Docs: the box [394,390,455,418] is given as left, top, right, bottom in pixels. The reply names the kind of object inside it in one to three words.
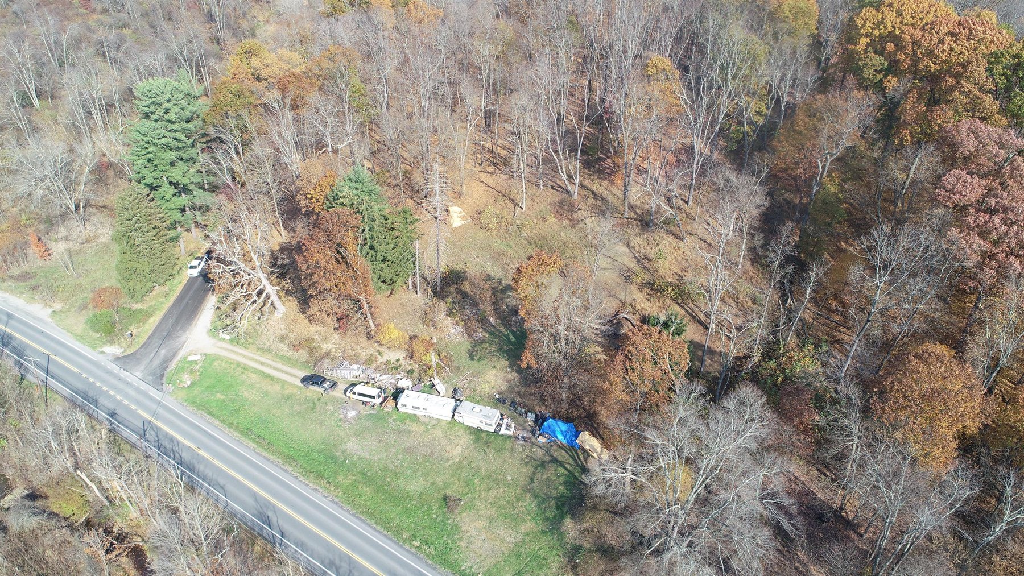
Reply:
trailer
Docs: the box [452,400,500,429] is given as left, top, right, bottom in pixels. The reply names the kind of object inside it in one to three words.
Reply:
camper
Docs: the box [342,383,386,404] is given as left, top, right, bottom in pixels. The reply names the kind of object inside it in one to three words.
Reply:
vehicle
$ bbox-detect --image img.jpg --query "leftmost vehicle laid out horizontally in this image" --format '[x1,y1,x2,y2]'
[301,376,337,393]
